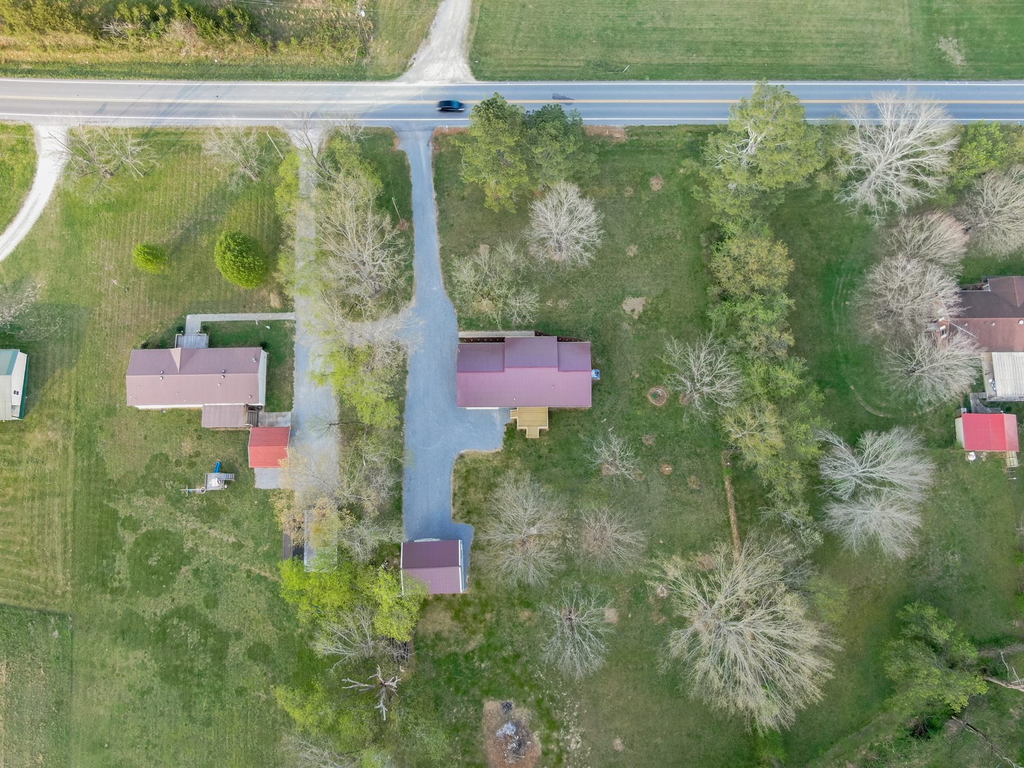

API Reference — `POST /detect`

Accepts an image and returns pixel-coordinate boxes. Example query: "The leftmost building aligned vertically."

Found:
[0,349,32,421]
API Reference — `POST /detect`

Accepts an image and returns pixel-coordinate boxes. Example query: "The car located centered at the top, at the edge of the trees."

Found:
[438,98,464,111]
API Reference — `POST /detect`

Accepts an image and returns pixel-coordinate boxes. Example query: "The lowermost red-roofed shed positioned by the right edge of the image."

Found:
[948,409,1020,452]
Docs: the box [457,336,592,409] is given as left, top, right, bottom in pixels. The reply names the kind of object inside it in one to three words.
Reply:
house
